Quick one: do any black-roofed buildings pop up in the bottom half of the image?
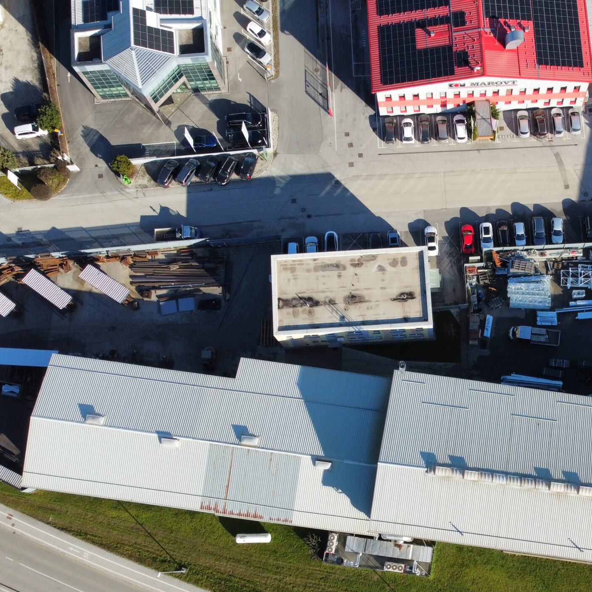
No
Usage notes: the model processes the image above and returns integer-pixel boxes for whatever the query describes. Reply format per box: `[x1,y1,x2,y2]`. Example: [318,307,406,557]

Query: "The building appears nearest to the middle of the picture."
[269,246,443,348]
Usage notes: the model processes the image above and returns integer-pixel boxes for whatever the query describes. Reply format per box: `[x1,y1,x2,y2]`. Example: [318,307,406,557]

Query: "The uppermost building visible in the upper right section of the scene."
[367,0,592,115]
